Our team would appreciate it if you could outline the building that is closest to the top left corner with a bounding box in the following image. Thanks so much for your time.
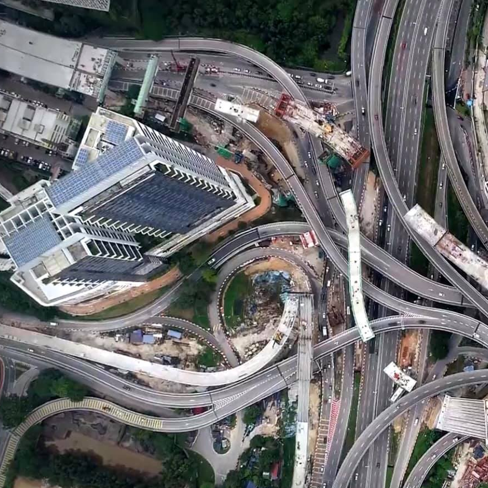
[0,0,61,20]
